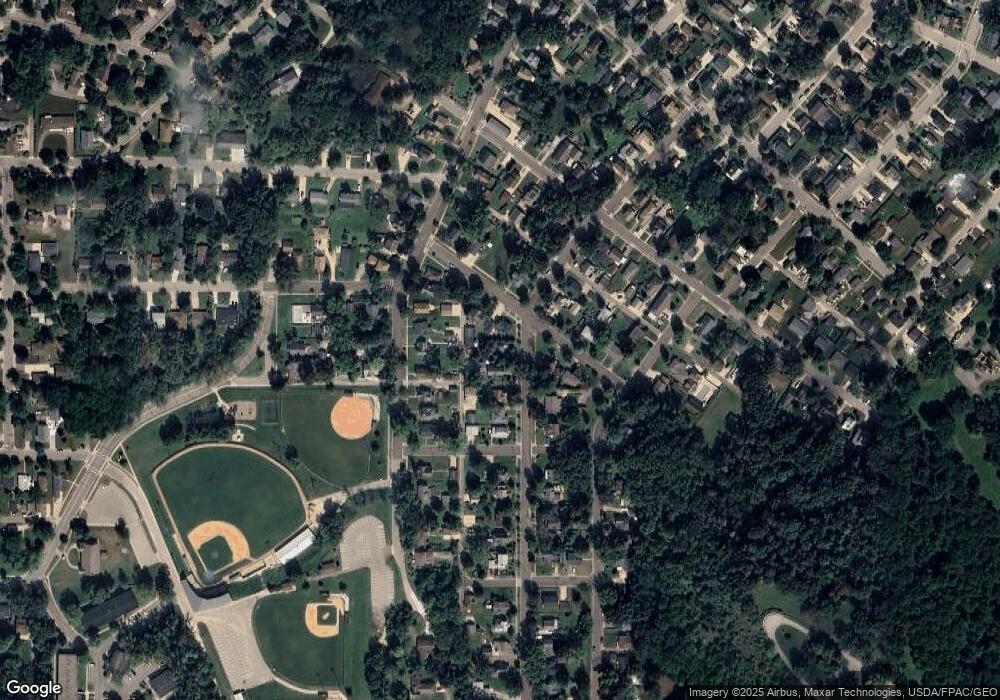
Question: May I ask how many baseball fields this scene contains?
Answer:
2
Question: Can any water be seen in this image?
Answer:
No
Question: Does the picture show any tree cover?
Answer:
Yes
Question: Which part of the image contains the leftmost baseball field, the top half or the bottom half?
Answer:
bottom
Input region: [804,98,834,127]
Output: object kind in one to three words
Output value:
building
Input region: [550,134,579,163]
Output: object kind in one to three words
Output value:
building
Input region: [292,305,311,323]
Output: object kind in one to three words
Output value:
house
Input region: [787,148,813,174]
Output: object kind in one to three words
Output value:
house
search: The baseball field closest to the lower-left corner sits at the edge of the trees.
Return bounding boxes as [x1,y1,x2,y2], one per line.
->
[152,443,308,586]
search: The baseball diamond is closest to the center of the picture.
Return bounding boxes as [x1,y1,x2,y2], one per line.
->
[281,391,380,488]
